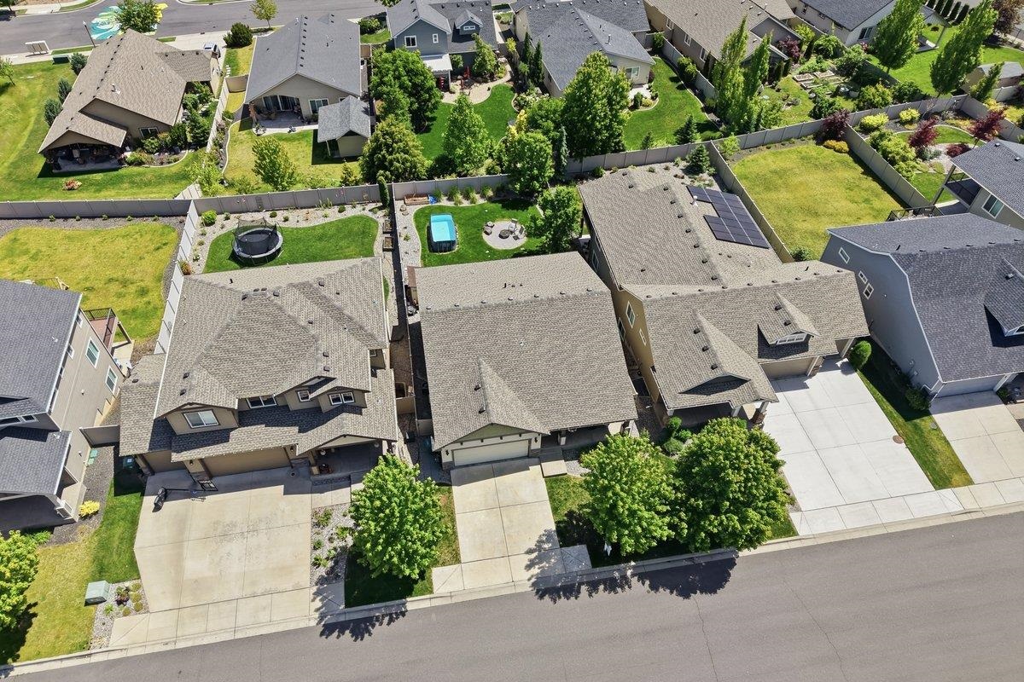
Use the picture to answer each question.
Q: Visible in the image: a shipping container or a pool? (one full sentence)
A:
Looking from above, you can make out a pool.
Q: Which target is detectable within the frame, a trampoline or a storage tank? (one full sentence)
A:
The image shows a trampoline.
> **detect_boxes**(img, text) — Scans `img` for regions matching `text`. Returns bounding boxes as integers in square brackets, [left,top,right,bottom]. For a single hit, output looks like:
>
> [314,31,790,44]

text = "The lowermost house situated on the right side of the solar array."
[825,204,1024,404]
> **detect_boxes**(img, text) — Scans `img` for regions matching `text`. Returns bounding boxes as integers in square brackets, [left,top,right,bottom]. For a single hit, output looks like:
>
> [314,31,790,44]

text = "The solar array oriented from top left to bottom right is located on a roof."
[687,185,768,248]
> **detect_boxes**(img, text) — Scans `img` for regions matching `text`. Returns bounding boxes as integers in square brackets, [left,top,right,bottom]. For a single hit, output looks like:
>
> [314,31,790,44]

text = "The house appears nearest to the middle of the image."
[401,251,638,470]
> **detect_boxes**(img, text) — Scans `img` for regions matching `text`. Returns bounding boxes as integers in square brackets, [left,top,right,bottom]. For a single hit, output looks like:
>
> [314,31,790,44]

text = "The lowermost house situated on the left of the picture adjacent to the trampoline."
[120,255,401,484]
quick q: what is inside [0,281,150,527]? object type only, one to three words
house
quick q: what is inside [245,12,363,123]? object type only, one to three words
house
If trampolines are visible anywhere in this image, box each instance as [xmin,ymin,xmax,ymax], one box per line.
[228,212,286,268]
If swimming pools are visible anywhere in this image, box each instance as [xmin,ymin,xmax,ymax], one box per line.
[428,213,461,253]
